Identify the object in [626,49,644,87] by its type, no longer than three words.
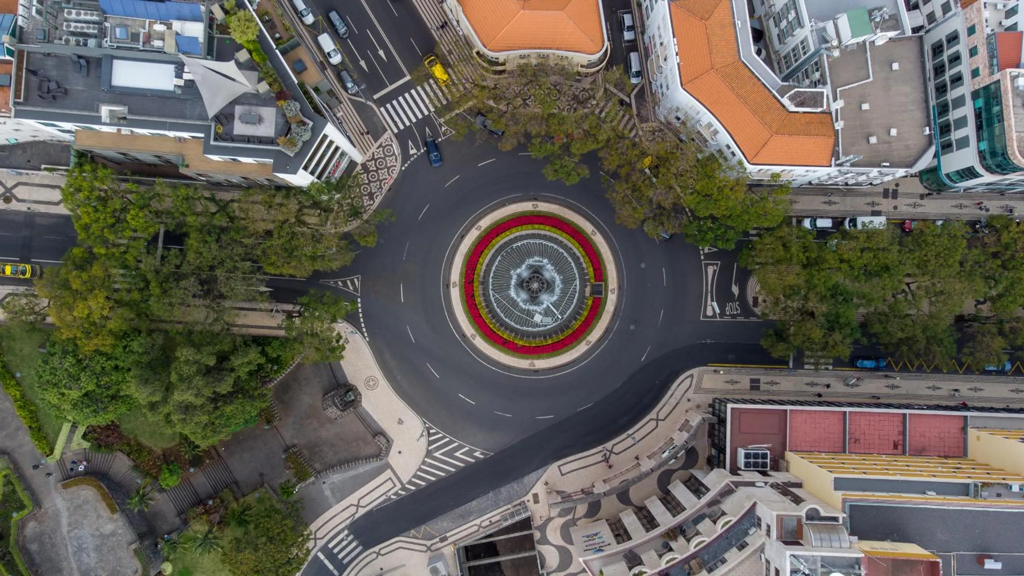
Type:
vehicle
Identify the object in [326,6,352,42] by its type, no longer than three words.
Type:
car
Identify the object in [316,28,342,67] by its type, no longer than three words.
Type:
vehicle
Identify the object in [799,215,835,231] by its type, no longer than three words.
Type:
car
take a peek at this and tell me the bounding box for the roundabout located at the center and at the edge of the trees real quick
[401,153,666,417]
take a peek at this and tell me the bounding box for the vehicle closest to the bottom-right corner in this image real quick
[981,359,1014,375]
